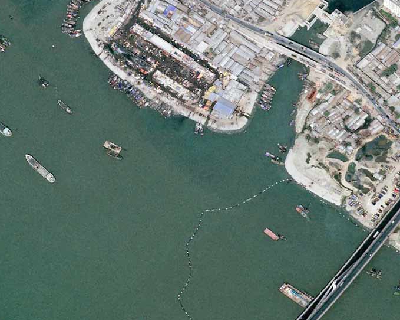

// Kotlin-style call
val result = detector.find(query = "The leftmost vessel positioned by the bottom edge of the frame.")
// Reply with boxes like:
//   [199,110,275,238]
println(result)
[280,283,312,309]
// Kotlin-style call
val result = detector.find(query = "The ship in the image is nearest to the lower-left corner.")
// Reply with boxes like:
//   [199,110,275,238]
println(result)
[25,154,55,184]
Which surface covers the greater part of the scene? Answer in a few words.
water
